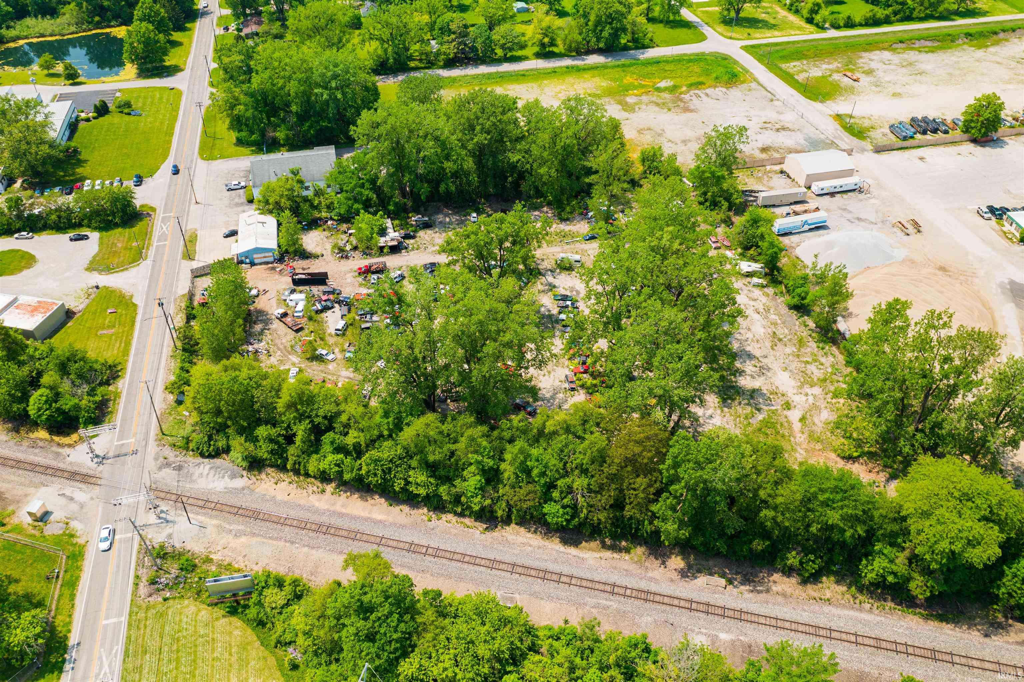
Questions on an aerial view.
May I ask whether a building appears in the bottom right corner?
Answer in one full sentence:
No, I see no building in the bottom right corner.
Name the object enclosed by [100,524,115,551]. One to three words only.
car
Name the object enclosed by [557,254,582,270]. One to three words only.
vehicle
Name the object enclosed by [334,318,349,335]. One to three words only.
car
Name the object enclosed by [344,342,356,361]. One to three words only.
vehicle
